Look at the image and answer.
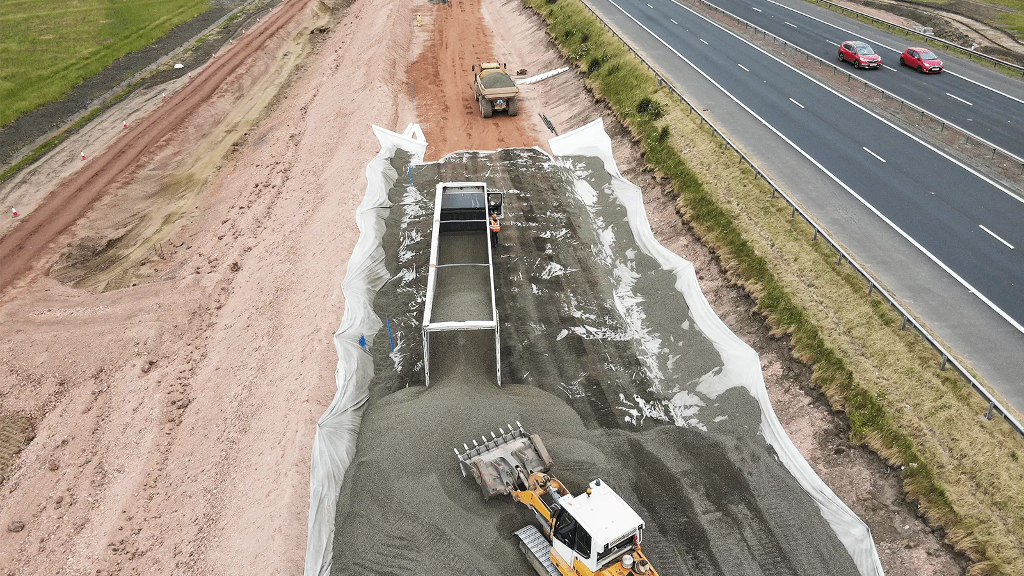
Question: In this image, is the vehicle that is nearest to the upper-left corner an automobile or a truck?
truck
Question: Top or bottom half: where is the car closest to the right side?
top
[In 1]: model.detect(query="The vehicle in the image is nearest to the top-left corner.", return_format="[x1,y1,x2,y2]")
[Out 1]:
[468,55,519,116]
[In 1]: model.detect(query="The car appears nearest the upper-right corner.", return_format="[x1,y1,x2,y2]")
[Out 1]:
[898,44,949,73]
